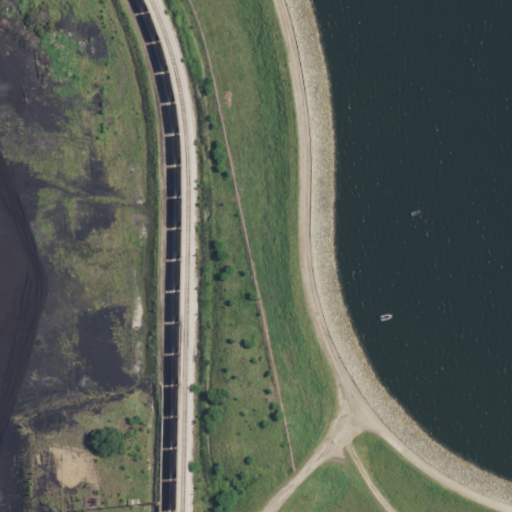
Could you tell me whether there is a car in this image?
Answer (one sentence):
No, I can see no car in this picture.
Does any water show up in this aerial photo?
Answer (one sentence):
Yes, there's water in this view.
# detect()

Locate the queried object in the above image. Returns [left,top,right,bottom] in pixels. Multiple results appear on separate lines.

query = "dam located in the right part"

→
[226,0,512,512]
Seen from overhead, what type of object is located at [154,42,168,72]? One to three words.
rail car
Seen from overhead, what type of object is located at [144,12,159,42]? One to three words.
rail car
